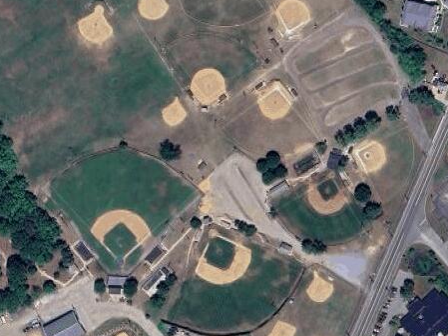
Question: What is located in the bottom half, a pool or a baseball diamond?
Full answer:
There is a baseball diamond in the bottom half.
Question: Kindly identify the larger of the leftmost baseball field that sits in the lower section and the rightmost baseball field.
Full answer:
Compared with the rightmost baseball field, the leftmost baseball field that sits in the lower section is the bigger one.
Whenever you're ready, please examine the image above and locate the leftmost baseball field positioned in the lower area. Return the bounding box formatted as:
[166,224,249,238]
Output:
[52,149,198,273]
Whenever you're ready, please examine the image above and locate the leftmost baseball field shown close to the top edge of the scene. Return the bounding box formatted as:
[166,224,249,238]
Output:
[76,1,114,44]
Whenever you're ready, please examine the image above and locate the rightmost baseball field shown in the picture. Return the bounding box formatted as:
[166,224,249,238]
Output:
[350,139,388,176]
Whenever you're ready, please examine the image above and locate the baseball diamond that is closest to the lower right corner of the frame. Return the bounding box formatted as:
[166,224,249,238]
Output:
[305,269,337,304]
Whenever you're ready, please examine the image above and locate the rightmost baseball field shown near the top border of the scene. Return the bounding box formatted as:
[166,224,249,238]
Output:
[275,0,312,37]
